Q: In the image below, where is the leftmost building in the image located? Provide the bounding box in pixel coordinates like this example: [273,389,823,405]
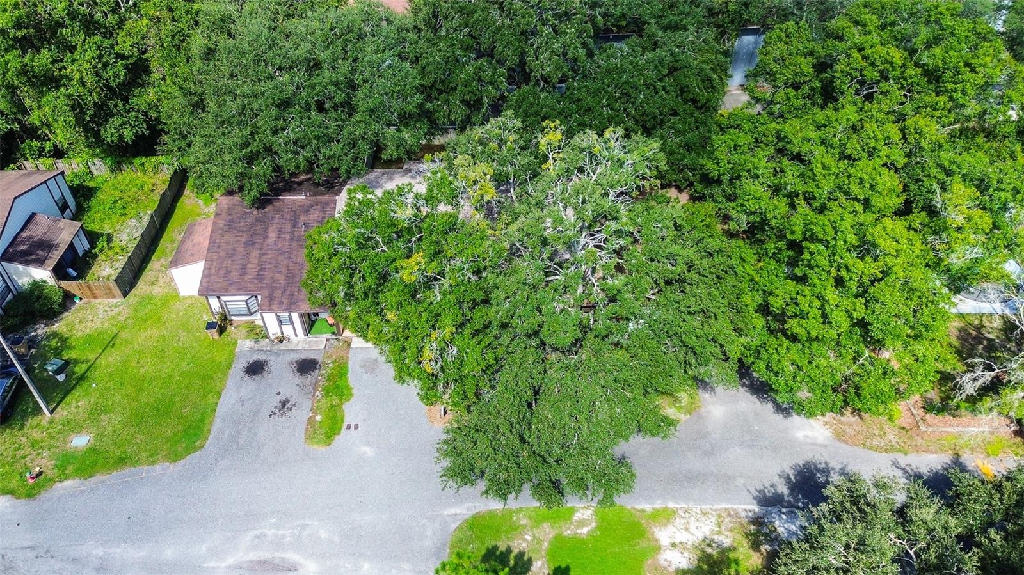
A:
[0,170,95,295]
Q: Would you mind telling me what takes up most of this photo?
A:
trees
